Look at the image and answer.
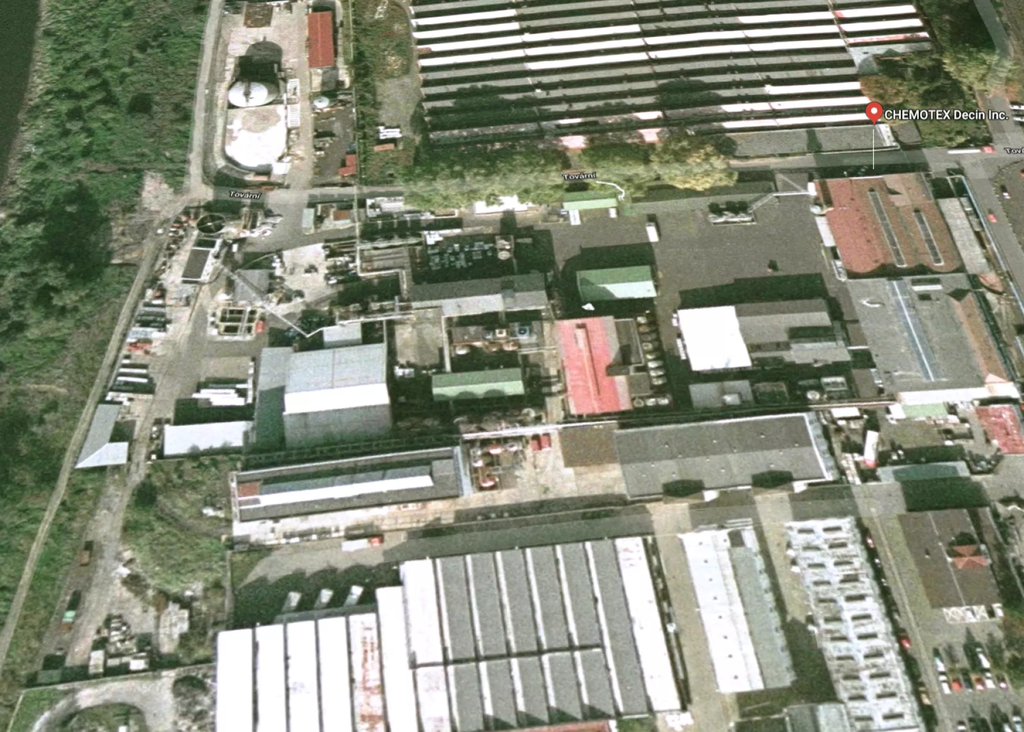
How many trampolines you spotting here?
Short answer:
0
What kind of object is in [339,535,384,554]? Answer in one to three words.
vehicle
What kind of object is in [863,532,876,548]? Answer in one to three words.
vehicle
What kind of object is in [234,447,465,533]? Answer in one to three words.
building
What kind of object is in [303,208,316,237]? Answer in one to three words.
shed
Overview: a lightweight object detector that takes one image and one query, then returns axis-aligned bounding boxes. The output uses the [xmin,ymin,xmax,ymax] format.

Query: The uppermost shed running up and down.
[308,11,334,76]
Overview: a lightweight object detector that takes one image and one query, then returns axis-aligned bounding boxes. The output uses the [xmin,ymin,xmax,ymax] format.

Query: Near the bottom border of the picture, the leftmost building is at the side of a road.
[219,608,390,732]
